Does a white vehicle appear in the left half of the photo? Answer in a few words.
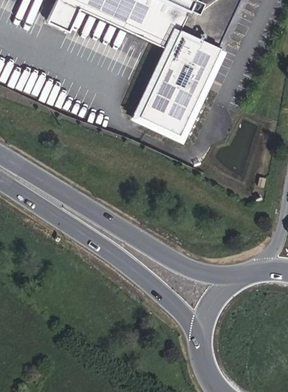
Yes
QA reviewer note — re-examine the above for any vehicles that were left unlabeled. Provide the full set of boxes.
[92,20,106,42]
[70,100,80,116]
[94,111,104,126]
[38,78,54,102]
[46,81,62,106]
[23,0,43,32]
[62,96,72,112]
[24,200,36,209]
[80,16,96,40]
[0,56,6,71]
[190,337,200,348]
[72,11,85,32]
[102,24,116,46]
[86,108,96,123]
[150,290,163,300]
[12,0,31,28]
[0,58,15,82]
[15,66,32,91]
[24,69,39,94]
[270,274,282,280]
[54,88,68,109]
[31,72,47,97]
[77,103,88,118]
[102,212,113,222]
[8,66,22,88]
[112,28,126,50]
[100,116,110,128]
